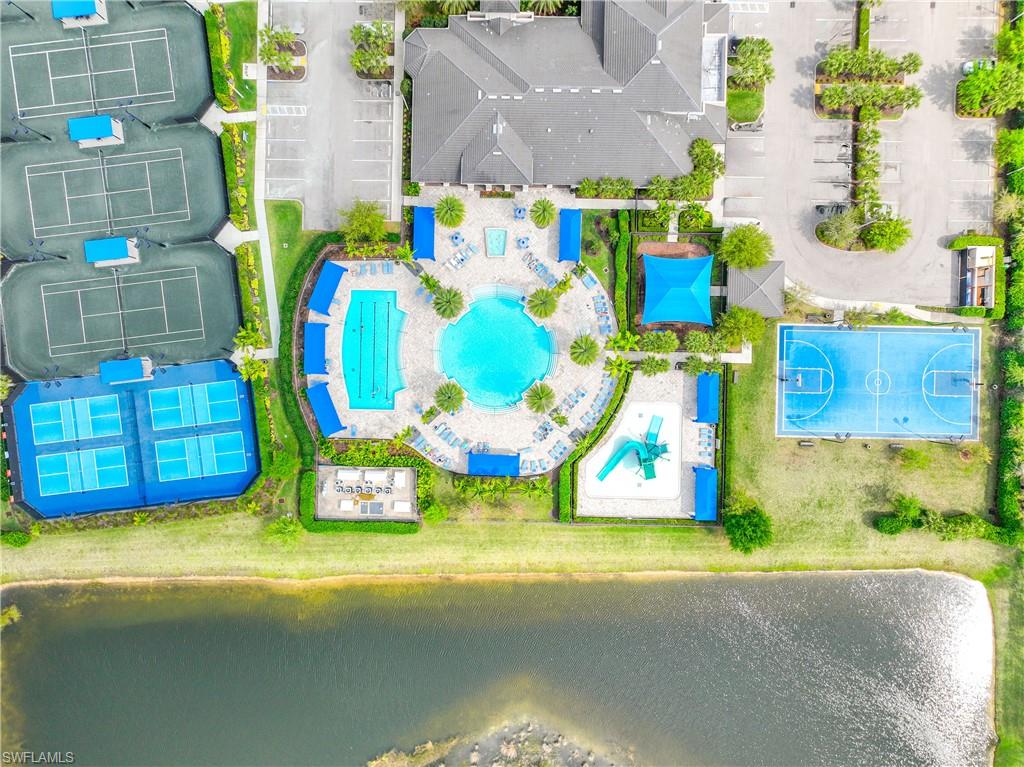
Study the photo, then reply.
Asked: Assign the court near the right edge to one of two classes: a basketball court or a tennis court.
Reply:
basketball court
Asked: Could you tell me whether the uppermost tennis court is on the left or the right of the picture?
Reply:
left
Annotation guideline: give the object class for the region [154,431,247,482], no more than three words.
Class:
sports court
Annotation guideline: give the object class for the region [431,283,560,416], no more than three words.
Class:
swimming pool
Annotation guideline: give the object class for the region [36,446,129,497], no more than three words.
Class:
sports court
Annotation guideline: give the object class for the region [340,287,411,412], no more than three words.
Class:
swimming pool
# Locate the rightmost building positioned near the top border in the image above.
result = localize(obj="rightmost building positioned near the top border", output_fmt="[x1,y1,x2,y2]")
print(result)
[404,0,732,195]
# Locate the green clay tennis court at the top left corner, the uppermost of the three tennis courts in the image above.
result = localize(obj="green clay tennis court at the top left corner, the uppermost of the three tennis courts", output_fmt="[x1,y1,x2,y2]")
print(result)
[0,0,205,141]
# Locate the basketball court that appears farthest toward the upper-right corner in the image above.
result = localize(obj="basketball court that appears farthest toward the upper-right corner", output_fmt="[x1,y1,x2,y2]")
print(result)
[777,324,980,440]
